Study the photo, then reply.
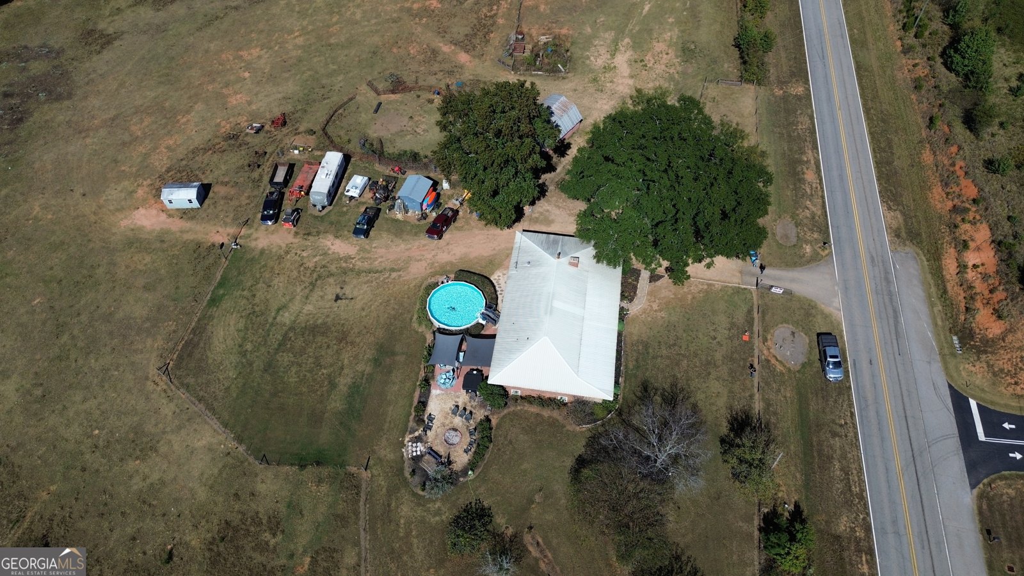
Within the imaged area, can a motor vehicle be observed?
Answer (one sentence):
Yes, a motor vehicle appears in the view.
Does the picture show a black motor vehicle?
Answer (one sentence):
Yes, you can see a black motor vehicle in this photo.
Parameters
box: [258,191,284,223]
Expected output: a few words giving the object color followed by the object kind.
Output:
black truck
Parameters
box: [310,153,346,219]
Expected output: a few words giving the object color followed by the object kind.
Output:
white vehicle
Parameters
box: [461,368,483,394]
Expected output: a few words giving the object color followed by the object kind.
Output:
black gazebo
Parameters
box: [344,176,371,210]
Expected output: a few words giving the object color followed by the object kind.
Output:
white vehicle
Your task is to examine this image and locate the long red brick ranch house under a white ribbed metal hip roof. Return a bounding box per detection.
[489,214,624,406]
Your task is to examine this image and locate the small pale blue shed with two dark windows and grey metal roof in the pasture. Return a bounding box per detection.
[160,181,204,209]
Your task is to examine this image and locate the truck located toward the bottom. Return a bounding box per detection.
[817,336,848,381]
